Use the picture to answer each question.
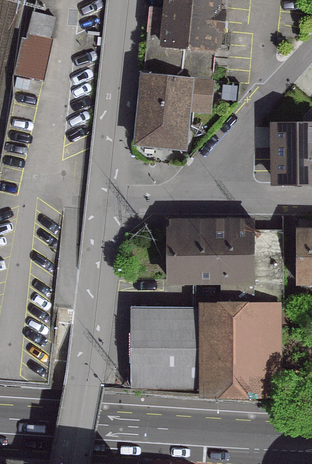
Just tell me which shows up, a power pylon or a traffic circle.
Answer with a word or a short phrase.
power pylon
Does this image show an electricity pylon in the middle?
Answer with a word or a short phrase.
Yes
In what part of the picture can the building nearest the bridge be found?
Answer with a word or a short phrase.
bottom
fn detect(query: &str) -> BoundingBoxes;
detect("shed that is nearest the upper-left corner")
[28,10,56,38]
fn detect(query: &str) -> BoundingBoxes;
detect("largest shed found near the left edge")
[14,36,53,80]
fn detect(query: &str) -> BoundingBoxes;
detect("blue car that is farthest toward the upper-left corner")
[78,16,100,30]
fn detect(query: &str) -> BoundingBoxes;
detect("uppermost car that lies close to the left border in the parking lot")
[13,92,38,104]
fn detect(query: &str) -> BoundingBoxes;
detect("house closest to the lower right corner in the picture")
[198,302,284,398]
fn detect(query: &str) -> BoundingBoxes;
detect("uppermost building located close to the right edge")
[270,120,312,186]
